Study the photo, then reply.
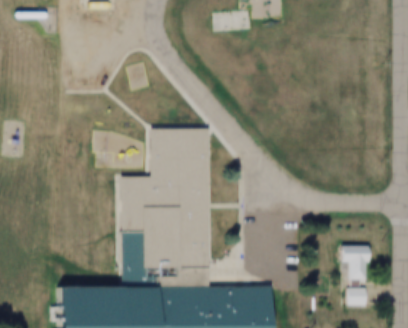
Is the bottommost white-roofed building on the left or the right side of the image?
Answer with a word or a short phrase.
right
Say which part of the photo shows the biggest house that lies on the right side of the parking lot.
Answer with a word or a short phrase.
bottom right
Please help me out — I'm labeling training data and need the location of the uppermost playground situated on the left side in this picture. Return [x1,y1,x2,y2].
[126,62,149,91]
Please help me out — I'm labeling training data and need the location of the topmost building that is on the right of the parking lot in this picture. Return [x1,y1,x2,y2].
[338,245,372,286]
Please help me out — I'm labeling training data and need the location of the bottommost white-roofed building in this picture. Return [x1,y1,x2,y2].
[344,287,368,308]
